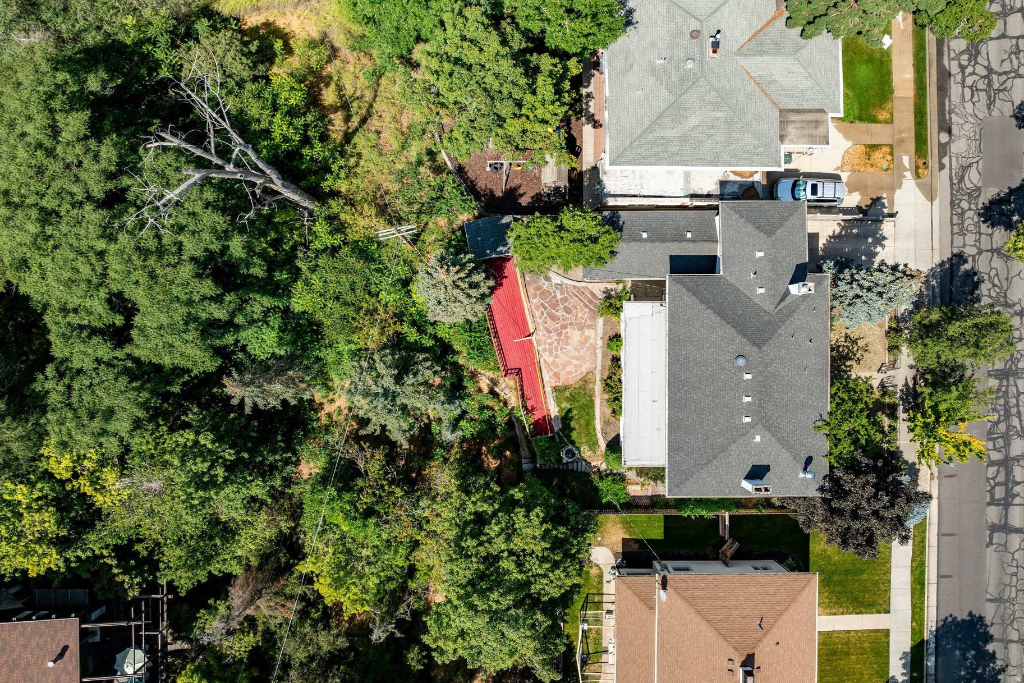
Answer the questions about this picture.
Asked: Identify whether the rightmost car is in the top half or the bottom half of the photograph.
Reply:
top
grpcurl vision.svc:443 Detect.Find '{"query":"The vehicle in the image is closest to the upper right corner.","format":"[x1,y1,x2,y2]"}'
[772,174,845,208]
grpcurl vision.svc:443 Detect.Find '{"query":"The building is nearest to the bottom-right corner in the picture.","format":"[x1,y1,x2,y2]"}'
[613,560,820,683]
